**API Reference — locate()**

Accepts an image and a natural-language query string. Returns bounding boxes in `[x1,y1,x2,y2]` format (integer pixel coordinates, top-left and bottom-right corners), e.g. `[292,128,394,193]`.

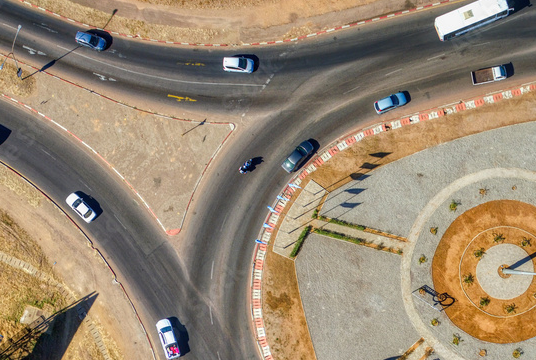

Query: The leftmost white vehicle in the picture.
[62,189,99,225]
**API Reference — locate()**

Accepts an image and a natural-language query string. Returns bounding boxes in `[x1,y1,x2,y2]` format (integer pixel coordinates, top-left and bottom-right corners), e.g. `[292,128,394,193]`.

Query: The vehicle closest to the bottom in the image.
[155,319,181,360]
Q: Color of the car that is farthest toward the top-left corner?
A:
blue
